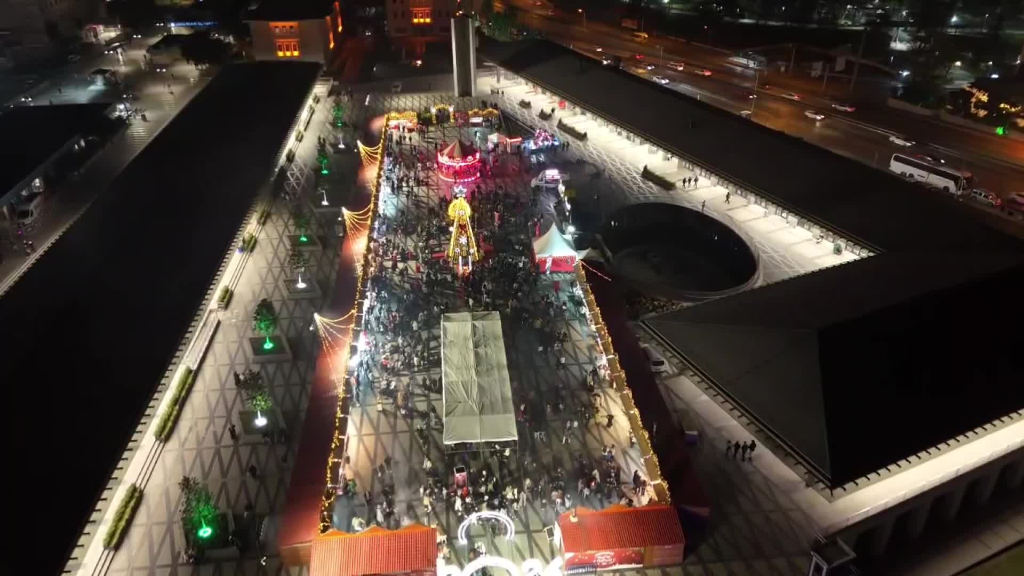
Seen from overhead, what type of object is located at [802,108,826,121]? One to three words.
vehicle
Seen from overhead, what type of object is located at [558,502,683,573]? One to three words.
shed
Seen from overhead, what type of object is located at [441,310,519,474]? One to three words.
tent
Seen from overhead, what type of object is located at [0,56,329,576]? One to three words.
building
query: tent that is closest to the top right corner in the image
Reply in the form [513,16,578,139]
[574,237,606,269]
